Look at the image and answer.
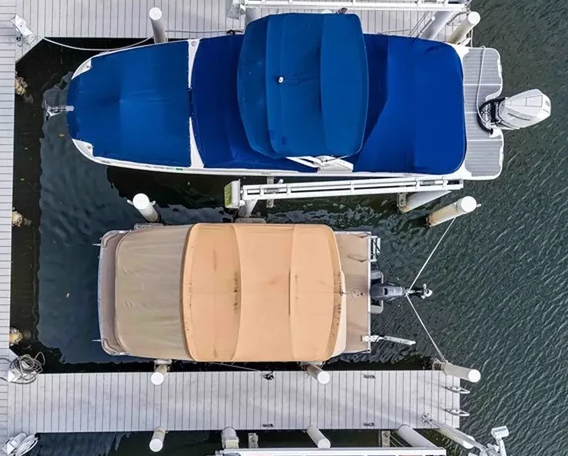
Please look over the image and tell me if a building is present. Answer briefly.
No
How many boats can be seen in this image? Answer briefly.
two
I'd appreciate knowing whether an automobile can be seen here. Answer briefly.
No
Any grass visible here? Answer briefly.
No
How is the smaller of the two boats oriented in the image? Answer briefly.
from side to side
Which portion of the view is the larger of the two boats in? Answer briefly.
top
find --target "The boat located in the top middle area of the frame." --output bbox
[44,14,549,182]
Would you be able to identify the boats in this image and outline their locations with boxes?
[92,216,436,369]
[44,14,549,182]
